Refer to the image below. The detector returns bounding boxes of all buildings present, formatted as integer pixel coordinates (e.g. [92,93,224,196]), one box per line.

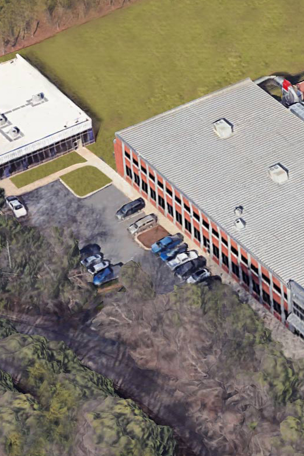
[113,78,304,343]
[0,56,93,179]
